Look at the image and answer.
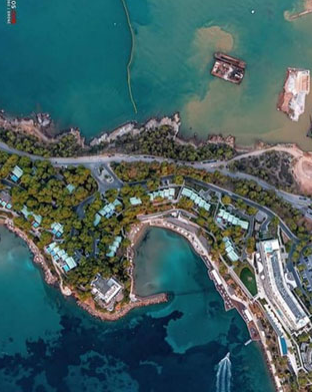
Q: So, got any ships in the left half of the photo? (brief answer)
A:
No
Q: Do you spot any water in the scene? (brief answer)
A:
Yes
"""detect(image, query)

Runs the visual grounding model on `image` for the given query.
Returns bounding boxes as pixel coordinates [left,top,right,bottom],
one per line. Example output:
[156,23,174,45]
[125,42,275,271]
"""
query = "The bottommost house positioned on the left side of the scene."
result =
[90,273,124,311]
